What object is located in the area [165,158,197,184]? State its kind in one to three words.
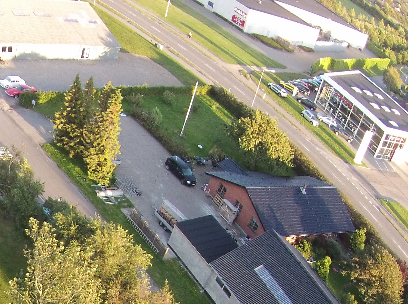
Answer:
car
